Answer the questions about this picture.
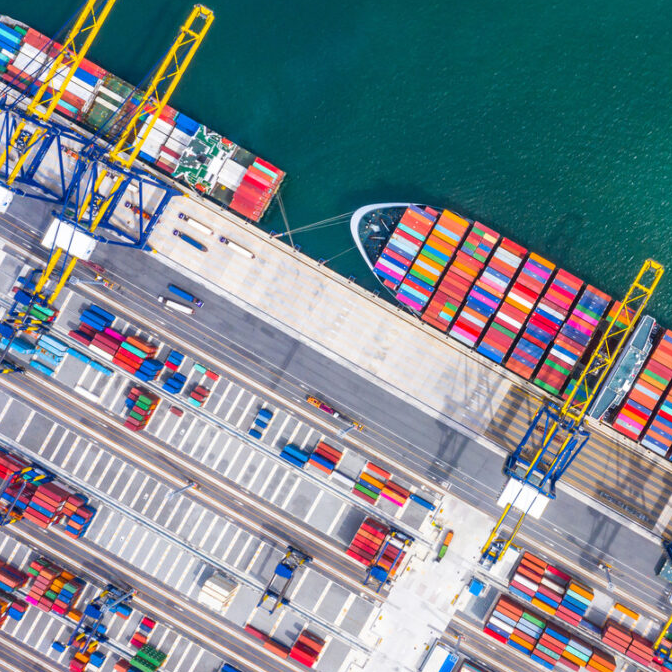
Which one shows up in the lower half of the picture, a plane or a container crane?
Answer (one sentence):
There is a container crane in the lower half of the picture.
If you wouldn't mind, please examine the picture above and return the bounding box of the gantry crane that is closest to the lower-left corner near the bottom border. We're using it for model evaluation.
[60,584,133,656]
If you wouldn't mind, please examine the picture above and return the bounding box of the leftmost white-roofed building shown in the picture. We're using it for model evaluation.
[421,641,459,672]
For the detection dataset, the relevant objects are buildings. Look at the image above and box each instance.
[463,573,489,596]
[421,641,459,672]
